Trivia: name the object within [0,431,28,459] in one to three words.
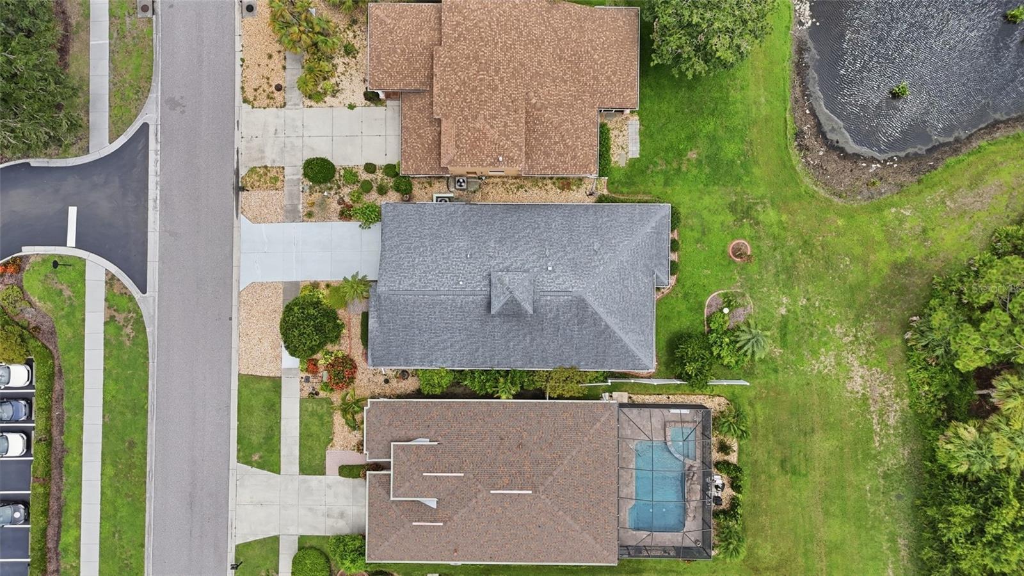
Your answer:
car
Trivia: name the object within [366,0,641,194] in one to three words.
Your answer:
house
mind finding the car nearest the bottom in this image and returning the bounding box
[0,500,30,529]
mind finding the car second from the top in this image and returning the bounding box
[0,397,30,425]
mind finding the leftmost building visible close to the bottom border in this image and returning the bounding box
[363,399,619,565]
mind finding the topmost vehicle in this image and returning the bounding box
[0,363,33,390]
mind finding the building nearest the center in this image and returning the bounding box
[367,200,673,374]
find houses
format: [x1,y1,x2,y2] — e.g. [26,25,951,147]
[367,200,673,374]
[363,399,619,565]
[366,0,641,194]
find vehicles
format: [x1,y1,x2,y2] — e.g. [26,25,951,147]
[0,431,28,459]
[0,363,33,390]
[0,500,30,529]
[0,397,30,425]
